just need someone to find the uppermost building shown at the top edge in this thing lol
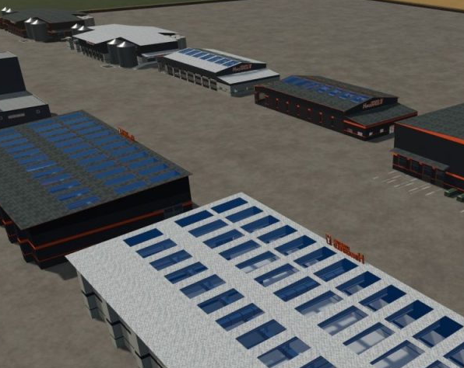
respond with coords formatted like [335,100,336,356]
[0,9,97,43]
